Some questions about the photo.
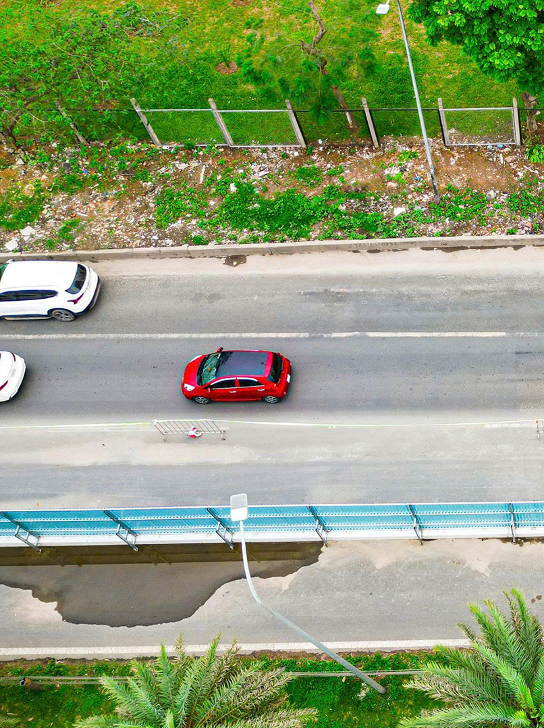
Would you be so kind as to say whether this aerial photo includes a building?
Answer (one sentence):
No, no building is visible in the view.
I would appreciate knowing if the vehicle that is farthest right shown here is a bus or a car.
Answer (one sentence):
The vehicle that is farthest right appears to be a car.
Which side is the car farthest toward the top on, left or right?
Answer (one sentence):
It is on the left.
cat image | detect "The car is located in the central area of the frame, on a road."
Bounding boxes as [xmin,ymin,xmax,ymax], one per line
[179,347,292,403]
